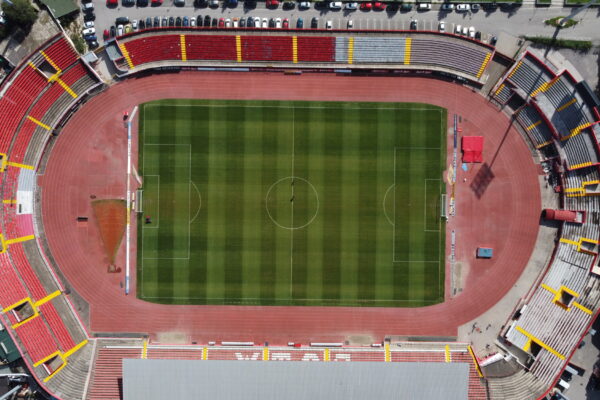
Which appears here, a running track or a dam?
running track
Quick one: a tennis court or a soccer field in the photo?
soccer field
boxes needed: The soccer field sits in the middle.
[137,101,447,306]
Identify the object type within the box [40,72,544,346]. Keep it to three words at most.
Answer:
running track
